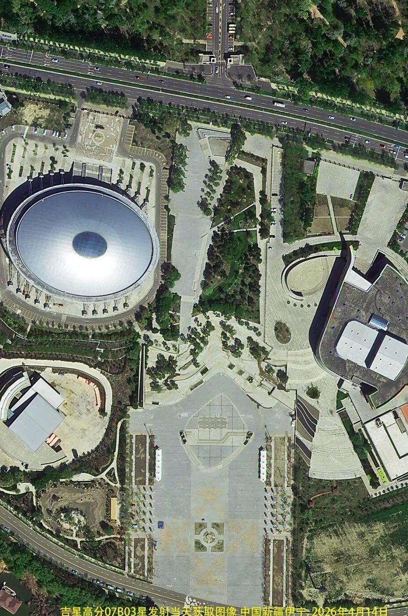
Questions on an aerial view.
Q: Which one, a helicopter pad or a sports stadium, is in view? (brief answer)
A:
sports stadium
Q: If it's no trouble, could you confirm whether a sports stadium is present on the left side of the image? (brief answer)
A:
Yes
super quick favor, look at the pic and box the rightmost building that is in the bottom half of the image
[363,403,408,482]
